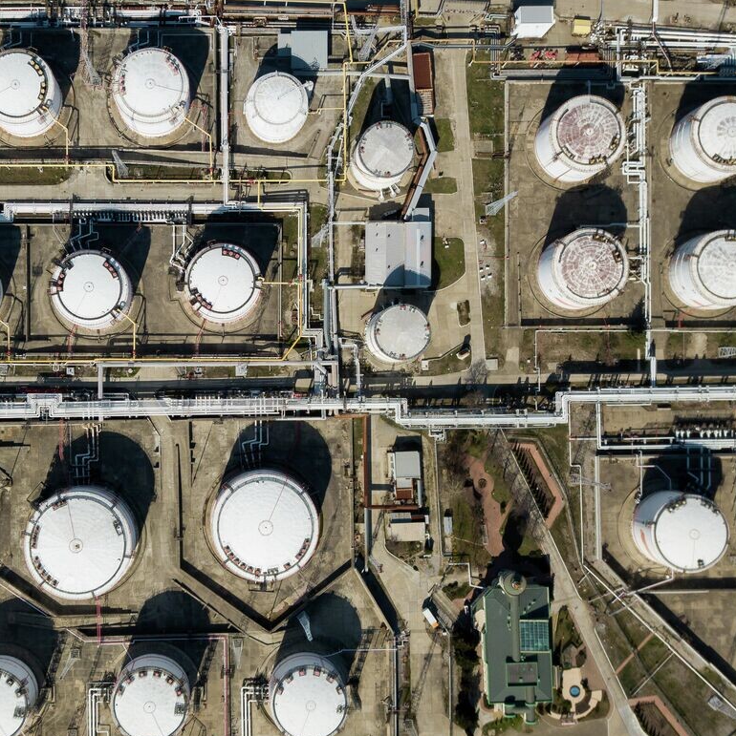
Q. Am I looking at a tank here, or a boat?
tank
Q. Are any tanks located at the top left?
Yes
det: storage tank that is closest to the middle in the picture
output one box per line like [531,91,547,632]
[360,302,432,367]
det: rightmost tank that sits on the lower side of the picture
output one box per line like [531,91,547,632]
[625,483,733,574]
